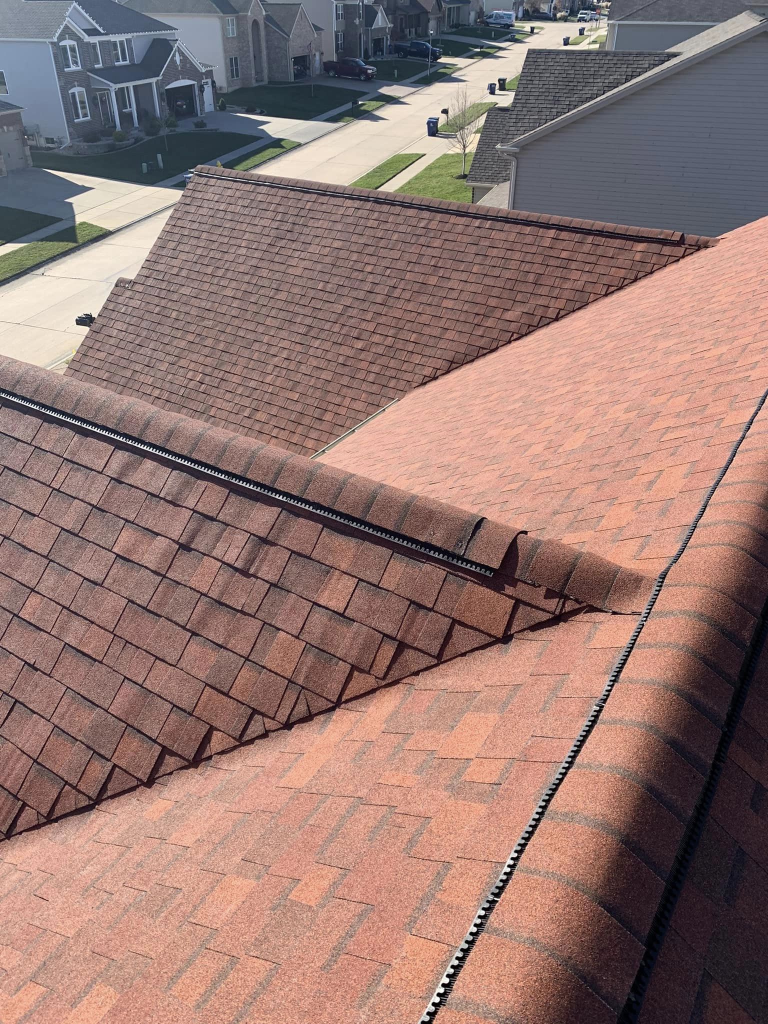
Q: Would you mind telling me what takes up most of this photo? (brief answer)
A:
buildings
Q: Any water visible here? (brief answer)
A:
No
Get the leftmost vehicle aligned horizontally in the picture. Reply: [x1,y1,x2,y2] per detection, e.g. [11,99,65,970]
[324,55,377,77]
